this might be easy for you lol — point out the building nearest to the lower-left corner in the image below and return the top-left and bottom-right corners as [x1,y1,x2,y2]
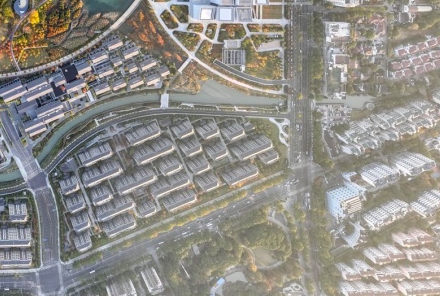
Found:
[0,248,31,266]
